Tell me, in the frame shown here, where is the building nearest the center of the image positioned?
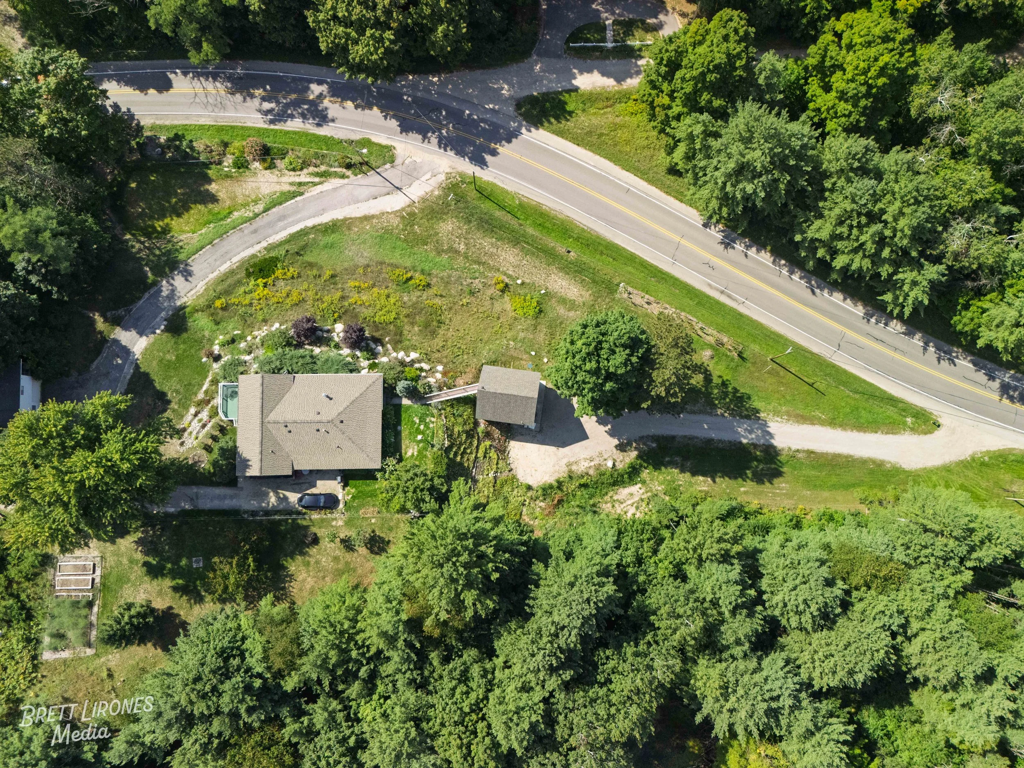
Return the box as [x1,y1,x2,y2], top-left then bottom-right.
[476,365,541,425]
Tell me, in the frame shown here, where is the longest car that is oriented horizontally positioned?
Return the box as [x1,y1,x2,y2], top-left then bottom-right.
[298,492,339,511]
